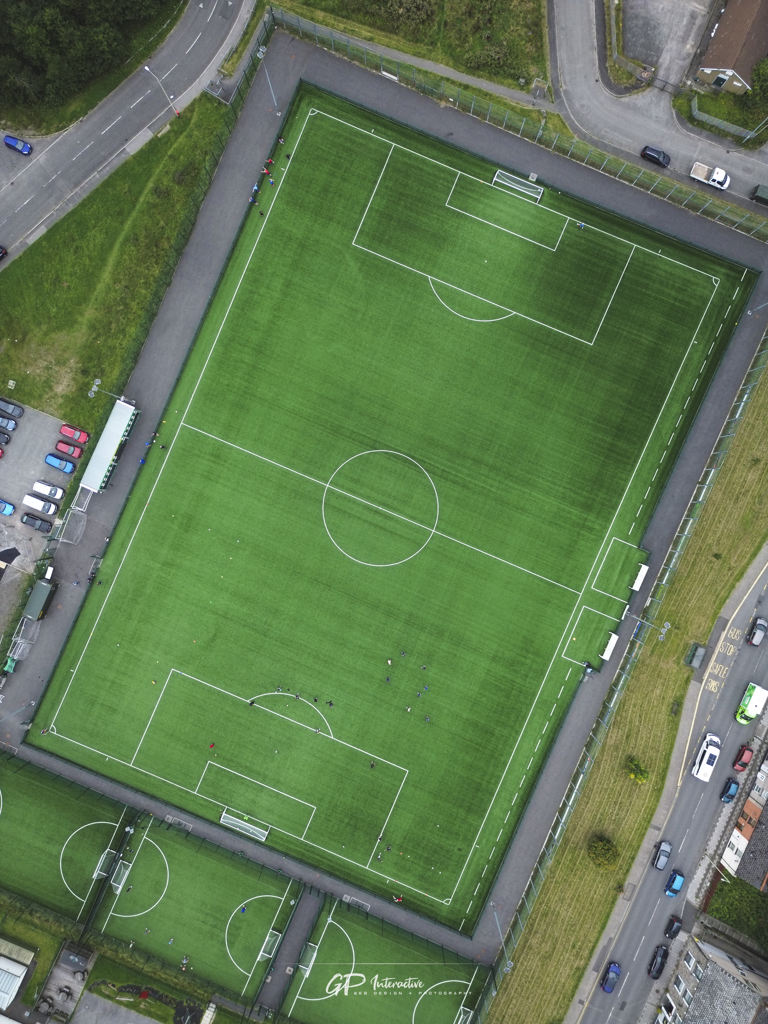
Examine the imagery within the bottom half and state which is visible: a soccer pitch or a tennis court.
soccer pitch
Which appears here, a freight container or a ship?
freight container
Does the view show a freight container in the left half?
Yes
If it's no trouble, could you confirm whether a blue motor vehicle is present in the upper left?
Yes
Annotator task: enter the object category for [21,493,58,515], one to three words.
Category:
vehicle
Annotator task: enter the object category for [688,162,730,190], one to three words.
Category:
truck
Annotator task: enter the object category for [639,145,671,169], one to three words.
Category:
car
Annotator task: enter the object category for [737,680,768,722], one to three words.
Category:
van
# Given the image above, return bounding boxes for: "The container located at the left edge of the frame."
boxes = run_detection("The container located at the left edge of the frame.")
[22,578,59,621]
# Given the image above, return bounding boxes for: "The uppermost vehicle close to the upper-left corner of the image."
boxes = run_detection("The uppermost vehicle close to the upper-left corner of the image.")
[3,134,34,156]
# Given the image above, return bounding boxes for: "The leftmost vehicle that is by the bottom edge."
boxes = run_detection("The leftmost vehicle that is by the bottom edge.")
[601,961,619,992]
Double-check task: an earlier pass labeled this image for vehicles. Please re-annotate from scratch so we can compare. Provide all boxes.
[601,961,619,992]
[0,414,17,431]
[720,777,740,803]
[0,397,25,416]
[664,914,683,939]
[737,680,768,722]
[652,840,670,871]
[0,429,11,444]
[58,423,90,444]
[664,870,684,896]
[44,453,76,473]
[33,479,65,500]
[21,493,58,515]
[639,145,671,169]
[20,512,52,533]
[733,745,753,771]
[688,162,730,190]
[54,439,84,458]
[747,618,766,646]
[3,134,34,156]
[648,946,668,979]
[0,500,16,516]
[691,733,720,784]
[0,244,10,263]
